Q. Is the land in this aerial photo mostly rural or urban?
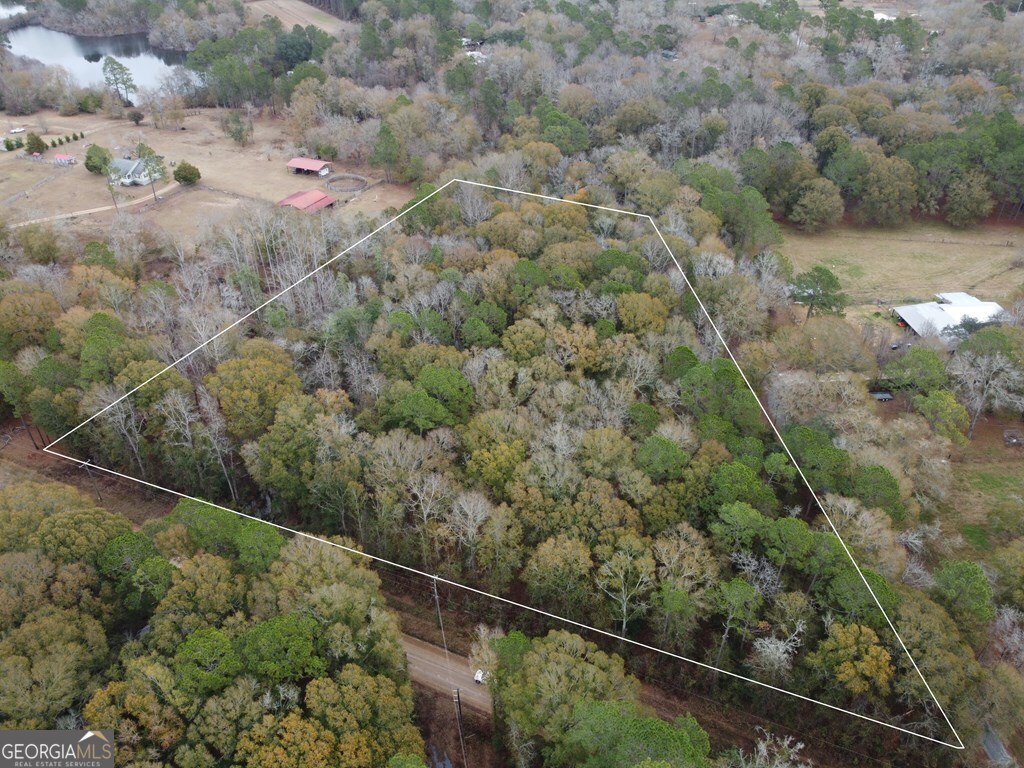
rural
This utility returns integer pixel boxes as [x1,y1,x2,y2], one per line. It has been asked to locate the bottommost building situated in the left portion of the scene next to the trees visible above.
[274,189,339,224]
